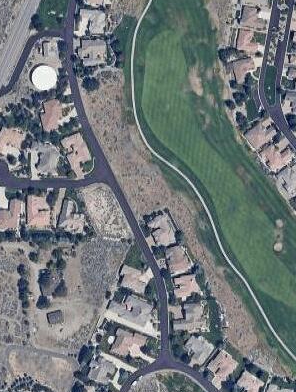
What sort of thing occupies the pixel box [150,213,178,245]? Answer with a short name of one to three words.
house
